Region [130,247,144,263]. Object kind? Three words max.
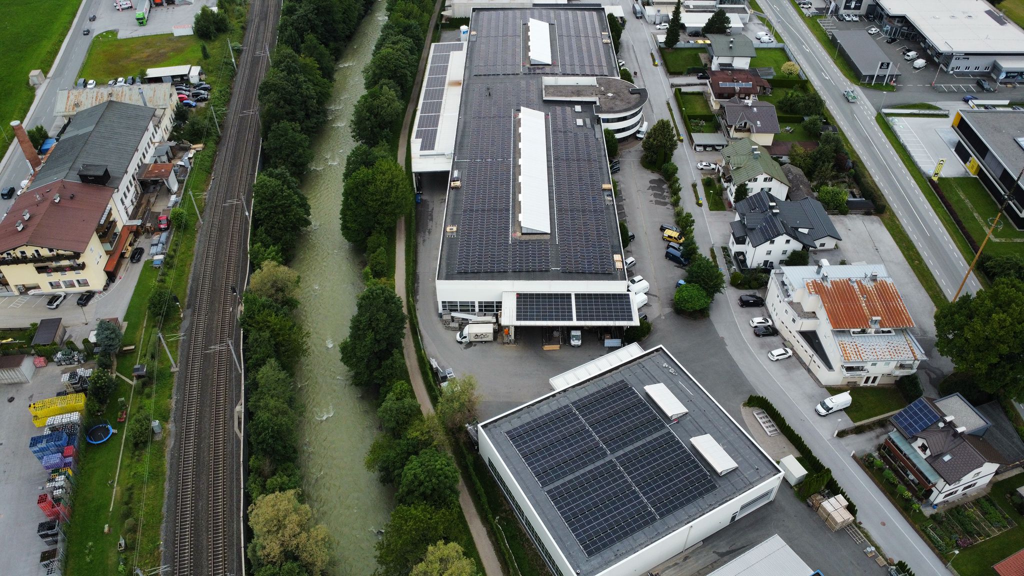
car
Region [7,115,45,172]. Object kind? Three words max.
chimney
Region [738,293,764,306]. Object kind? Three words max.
vehicle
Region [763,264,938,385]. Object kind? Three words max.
building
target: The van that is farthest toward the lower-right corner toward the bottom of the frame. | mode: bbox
[816,387,855,415]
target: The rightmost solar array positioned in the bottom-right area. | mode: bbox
[895,401,946,445]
